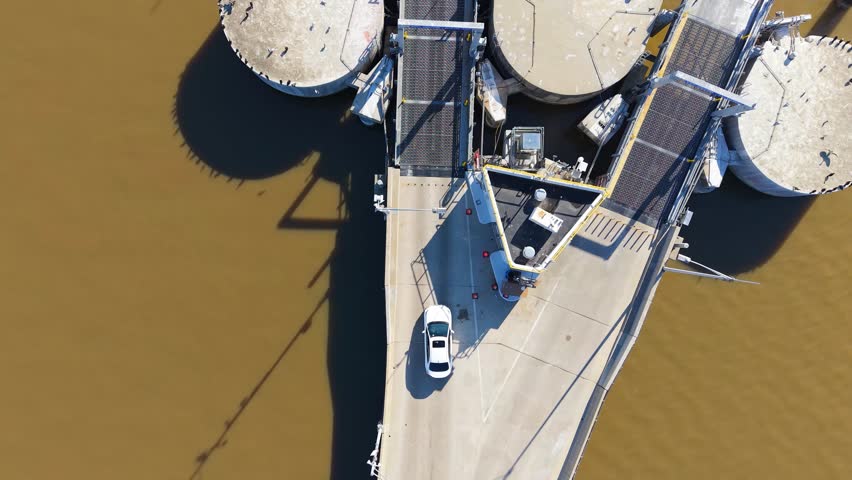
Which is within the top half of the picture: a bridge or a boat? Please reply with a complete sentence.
The one visible within the top half of the picture is a bridge.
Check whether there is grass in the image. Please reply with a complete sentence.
No, the scene doesn't show any grass.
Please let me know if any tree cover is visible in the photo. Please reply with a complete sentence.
No, tree cover can't be seen anywhere here.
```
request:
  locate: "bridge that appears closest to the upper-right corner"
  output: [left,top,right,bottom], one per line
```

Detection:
[594,0,777,235]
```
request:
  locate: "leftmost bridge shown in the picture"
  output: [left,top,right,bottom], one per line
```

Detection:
[397,0,480,176]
